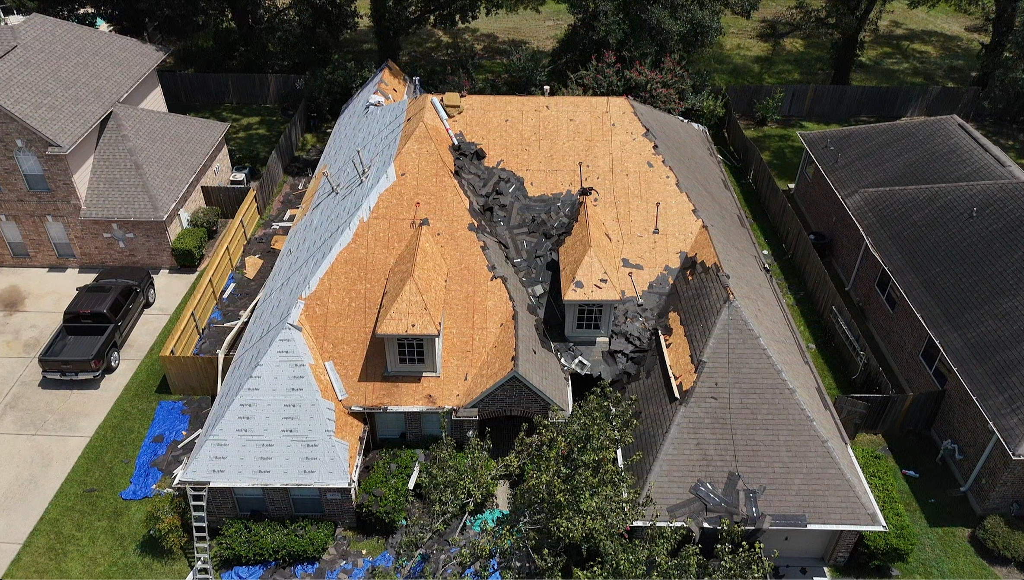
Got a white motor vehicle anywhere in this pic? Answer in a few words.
No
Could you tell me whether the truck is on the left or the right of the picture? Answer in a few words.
left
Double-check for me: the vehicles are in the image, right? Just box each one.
[36,268,164,384]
